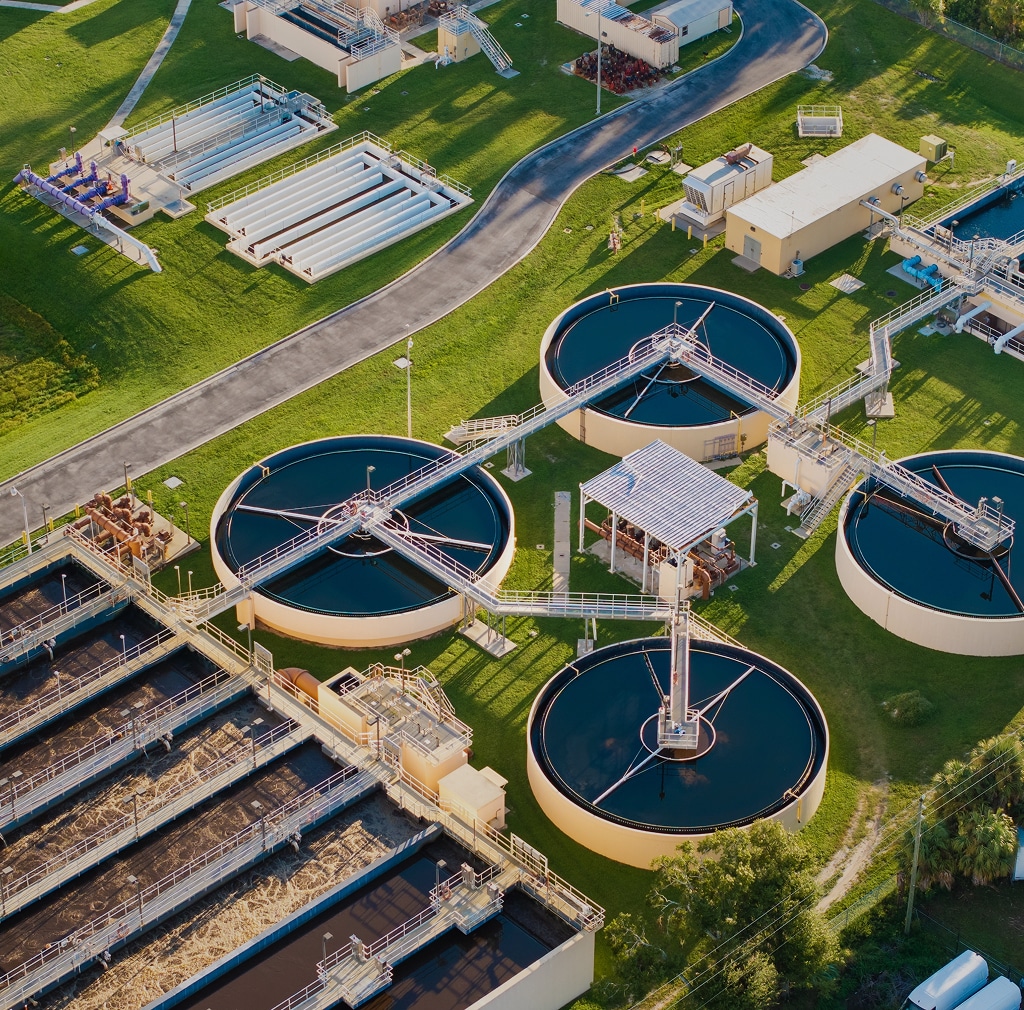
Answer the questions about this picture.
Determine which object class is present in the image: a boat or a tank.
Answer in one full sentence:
The image shows a tank.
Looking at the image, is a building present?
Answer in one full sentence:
Yes, there's a building down there.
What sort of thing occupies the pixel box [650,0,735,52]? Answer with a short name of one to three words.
shed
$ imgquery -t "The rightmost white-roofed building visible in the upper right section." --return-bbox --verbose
[725,134,928,276]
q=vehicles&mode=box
[959,979,1021,1010]
[903,953,990,1010]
